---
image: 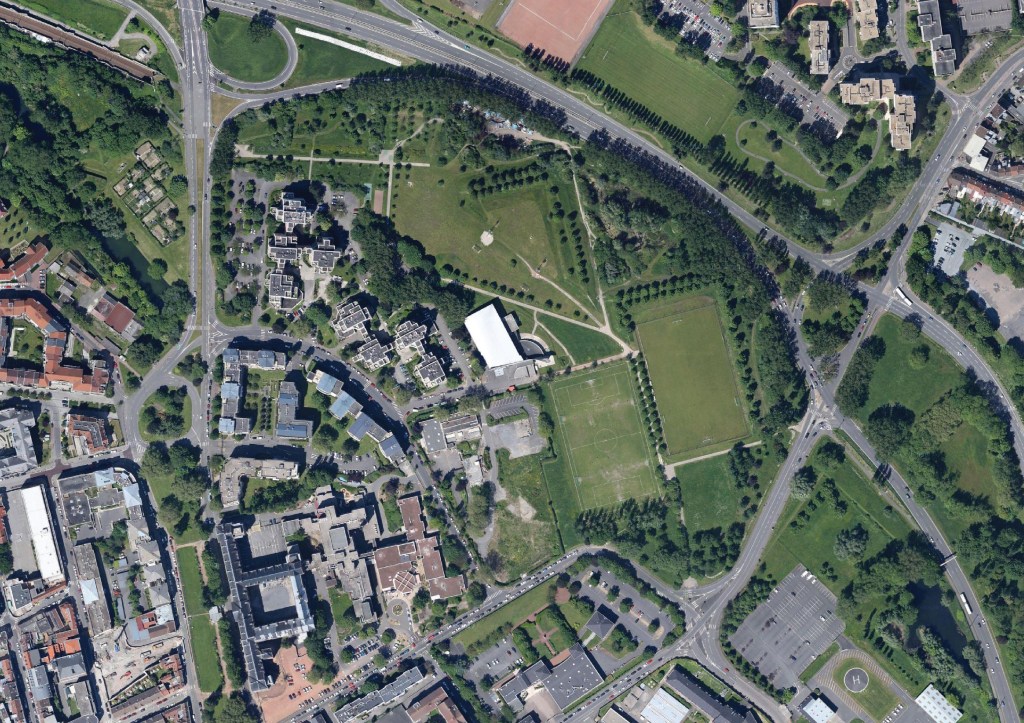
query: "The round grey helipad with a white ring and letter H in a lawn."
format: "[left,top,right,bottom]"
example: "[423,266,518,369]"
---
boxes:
[806,649,926,723]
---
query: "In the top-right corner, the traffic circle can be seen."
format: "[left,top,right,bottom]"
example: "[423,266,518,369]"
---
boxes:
[835,48,863,76]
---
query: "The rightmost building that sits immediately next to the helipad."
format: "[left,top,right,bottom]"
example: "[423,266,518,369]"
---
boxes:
[915,684,963,723]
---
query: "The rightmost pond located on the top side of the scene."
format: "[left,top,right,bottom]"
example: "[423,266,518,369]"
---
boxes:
[100,234,173,306]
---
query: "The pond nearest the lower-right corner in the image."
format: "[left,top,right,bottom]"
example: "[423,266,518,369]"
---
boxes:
[905,583,984,686]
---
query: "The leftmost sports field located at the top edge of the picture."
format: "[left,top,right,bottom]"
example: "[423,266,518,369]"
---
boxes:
[497,0,612,65]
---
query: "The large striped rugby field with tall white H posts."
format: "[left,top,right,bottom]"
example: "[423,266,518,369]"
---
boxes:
[578,11,738,148]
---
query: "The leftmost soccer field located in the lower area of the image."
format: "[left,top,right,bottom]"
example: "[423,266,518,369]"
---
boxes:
[549,363,661,512]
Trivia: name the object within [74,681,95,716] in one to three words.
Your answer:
building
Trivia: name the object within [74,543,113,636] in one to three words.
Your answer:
building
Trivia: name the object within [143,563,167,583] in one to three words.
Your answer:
house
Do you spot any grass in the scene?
Yes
